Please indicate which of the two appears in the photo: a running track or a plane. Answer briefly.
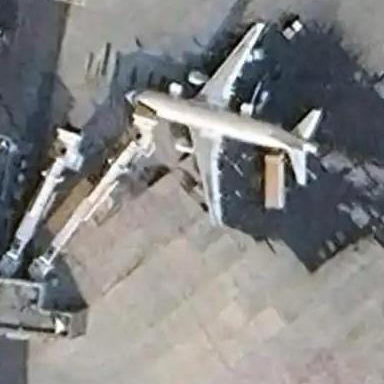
plane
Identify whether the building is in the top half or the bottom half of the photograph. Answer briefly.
bottom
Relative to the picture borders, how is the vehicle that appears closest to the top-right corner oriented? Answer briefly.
on a diagonal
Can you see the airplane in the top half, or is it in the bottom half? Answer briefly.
top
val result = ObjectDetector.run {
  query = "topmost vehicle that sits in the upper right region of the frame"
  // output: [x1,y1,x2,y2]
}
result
[281,20,303,39]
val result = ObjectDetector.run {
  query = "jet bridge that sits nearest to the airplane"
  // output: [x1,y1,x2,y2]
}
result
[29,102,158,280]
